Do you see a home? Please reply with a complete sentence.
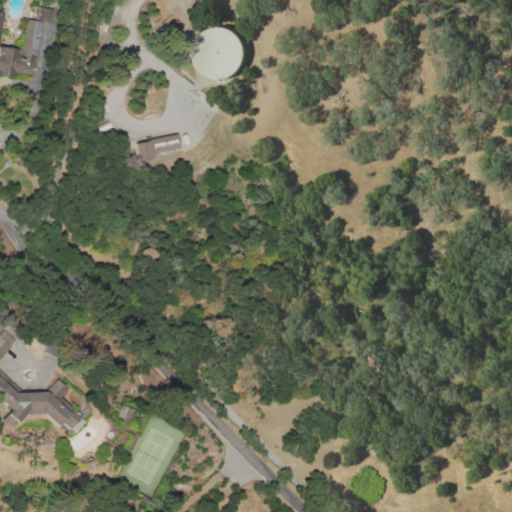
Yes, I can see a home in this picture.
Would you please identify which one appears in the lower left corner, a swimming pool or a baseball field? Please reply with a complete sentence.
The one visible in the lower left corner is a swimming pool.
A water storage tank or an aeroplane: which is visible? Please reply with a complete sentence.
The one in the frame is a water storage tank.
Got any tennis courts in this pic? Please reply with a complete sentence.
Yes, this view includes a tennis court.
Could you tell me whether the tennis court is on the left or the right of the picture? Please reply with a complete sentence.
The tennis court appears in the left half of the scene.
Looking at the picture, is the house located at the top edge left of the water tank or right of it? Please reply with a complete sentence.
Relative to the water tank, the house located at the top edge is on the left.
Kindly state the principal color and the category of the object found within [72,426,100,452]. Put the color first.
white swimming pool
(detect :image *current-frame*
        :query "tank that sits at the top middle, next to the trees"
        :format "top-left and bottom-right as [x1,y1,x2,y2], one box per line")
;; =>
[192,26,244,79]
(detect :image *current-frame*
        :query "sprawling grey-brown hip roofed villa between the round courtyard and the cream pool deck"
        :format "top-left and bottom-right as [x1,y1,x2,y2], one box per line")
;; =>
[0,368,92,436]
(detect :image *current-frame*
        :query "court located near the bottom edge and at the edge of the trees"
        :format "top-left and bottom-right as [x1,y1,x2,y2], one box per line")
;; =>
[120,417,184,496]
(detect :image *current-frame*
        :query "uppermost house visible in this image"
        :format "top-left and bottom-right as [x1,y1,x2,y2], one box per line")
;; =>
[0,6,56,78]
